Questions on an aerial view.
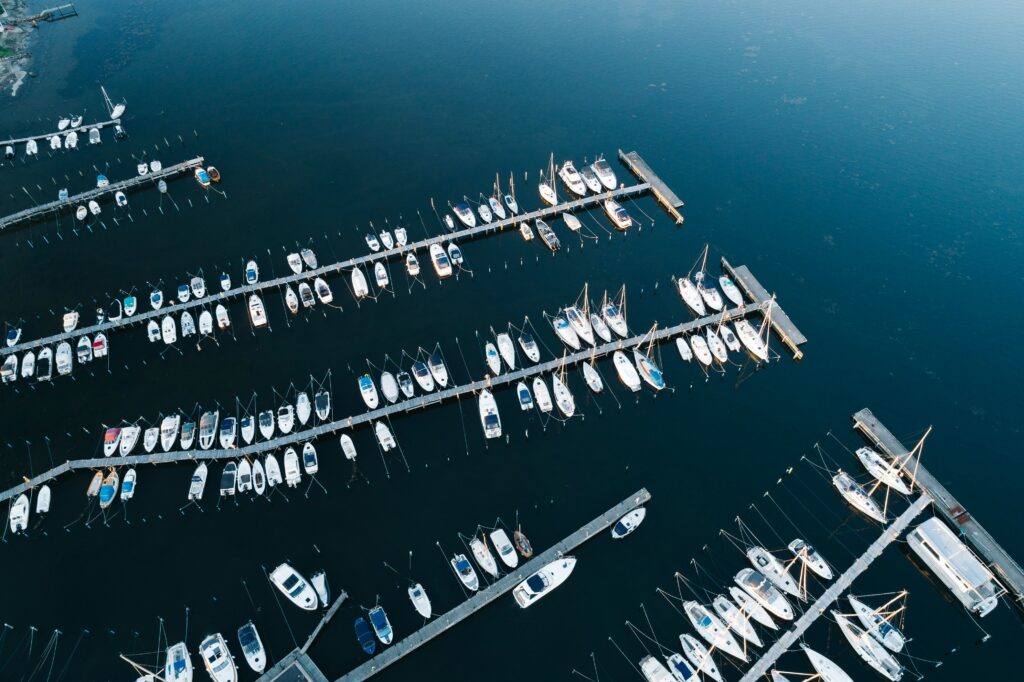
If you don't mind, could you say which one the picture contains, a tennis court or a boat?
boat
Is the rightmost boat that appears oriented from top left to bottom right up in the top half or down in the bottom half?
bottom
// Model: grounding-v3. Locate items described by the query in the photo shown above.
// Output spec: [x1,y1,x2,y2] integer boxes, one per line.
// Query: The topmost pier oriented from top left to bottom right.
[625,151,684,210]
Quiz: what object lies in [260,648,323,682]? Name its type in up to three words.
pier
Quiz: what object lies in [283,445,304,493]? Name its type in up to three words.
boat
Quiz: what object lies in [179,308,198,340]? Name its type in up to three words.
boat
